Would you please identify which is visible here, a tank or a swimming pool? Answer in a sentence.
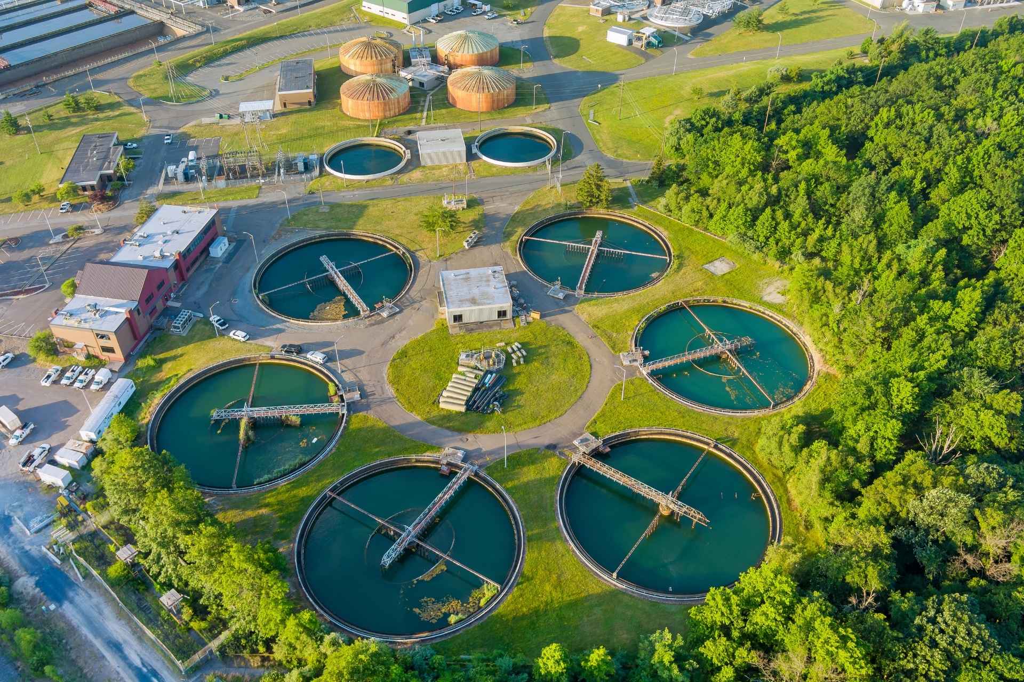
It is a tank that can be seen here.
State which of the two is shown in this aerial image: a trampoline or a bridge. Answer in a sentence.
Visible in the photo is a bridge.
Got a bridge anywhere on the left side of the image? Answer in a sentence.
Yes, looking on the left side of the image, one can make out a bridge.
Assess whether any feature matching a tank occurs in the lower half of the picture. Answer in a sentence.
Yes, a tank can be seen in the lower half of the picture.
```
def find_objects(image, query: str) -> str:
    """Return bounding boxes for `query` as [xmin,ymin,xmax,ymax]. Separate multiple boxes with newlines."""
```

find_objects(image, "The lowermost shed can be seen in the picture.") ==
[159,589,184,618]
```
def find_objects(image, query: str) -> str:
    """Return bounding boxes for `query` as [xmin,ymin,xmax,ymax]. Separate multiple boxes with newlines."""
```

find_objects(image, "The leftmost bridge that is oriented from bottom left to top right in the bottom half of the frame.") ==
[382,456,481,566]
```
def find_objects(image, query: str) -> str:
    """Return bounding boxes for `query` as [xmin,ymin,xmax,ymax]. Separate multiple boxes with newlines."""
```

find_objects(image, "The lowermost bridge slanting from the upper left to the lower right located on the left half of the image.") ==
[321,253,371,322]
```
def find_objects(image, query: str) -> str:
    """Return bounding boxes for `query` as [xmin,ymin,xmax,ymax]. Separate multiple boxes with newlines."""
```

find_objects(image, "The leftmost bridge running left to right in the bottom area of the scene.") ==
[213,402,351,419]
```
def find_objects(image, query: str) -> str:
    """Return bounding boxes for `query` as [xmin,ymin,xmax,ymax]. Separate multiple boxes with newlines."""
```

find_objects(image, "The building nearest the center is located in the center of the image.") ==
[438,265,516,338]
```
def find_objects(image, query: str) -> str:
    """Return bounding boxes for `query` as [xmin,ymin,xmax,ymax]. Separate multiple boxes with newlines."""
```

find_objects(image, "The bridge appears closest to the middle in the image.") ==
[576,230,602,300]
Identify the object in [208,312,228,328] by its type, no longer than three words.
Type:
vehicle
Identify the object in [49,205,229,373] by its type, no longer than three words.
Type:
building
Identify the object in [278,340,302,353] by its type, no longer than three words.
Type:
vehicle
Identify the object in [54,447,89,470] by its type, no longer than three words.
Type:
shed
